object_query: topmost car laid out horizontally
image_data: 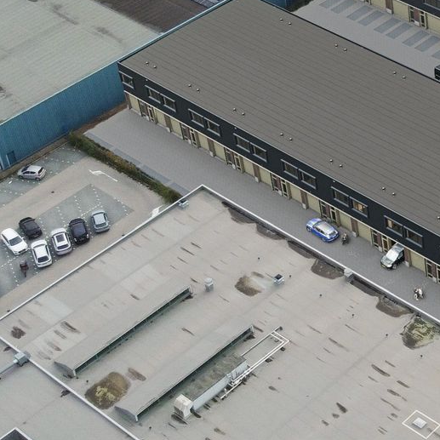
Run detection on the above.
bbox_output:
[15,163,49,183]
